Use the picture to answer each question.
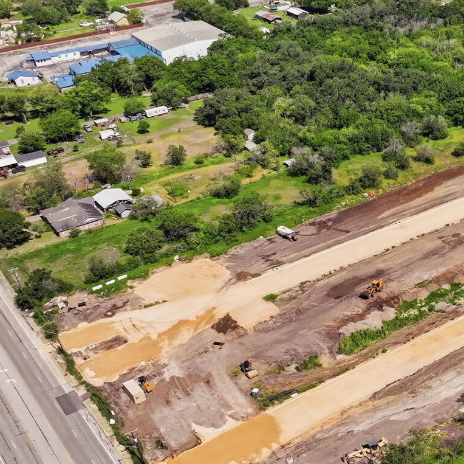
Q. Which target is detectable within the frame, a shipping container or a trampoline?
shipping container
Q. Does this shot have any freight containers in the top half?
No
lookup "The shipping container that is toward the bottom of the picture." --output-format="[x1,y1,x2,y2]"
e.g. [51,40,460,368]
[122,378,148,408]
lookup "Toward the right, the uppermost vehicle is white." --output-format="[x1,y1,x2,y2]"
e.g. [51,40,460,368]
[276,222,300,242]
